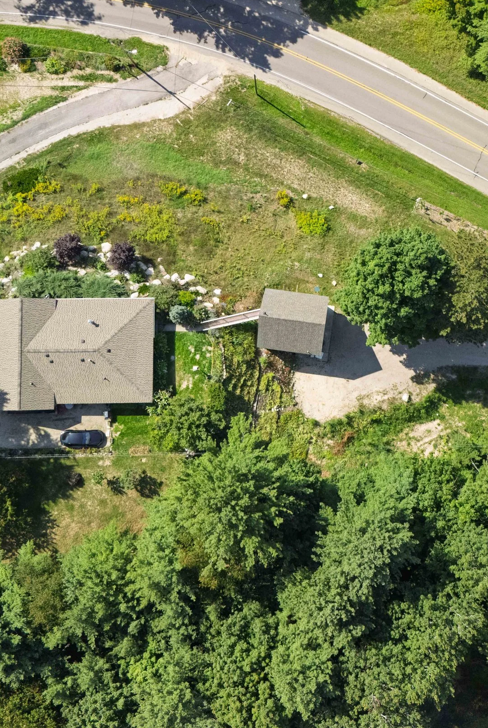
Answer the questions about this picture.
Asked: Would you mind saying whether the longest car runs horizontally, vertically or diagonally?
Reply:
horizontally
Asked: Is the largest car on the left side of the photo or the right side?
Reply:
left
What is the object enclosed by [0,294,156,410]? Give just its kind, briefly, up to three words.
house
